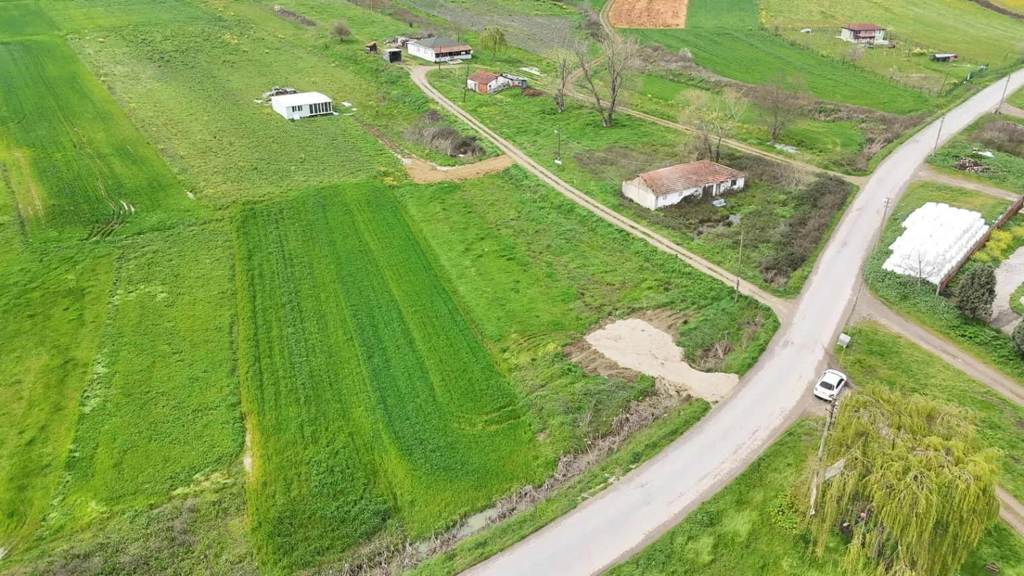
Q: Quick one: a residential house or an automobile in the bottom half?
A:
automobile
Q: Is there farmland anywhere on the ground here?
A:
Yes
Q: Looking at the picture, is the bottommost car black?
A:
No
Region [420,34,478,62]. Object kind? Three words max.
house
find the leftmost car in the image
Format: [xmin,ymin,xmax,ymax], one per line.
[811,366,850,400]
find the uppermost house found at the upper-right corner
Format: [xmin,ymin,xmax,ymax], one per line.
[841,19,890,44]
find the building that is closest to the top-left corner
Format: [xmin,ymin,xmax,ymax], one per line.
[272,89,335,119]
